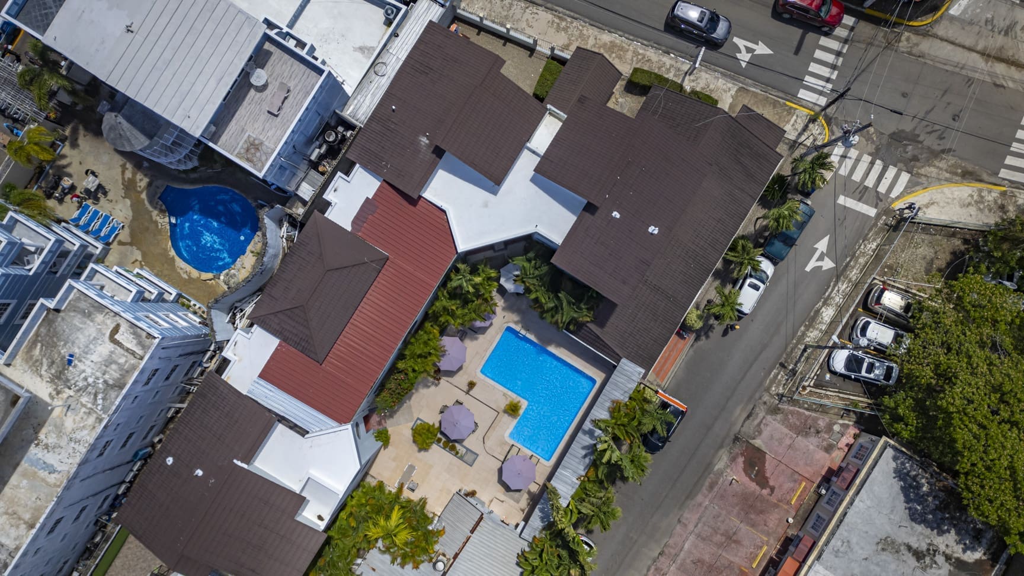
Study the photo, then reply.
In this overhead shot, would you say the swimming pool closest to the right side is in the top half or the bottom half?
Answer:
bottom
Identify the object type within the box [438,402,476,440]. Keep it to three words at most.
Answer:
umbrella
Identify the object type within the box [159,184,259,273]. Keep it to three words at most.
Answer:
swimming pool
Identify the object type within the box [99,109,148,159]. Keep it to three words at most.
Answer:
umbrella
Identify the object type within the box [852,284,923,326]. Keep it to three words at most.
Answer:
car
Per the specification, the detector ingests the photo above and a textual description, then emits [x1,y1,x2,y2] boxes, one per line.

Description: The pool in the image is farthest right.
[481,327,597,461]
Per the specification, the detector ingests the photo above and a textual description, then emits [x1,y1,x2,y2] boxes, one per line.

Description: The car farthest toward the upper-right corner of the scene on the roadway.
[769,0,842,33]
